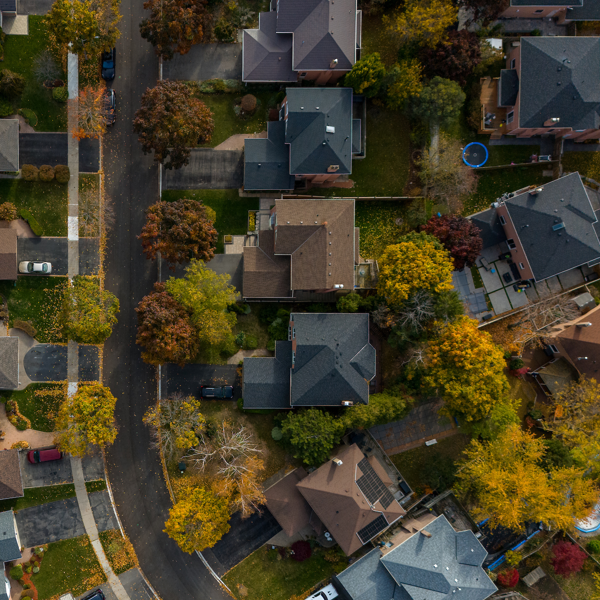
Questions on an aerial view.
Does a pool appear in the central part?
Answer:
No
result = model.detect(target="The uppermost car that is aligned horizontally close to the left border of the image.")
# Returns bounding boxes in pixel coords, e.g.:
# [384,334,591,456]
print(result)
[19,260,52,274]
